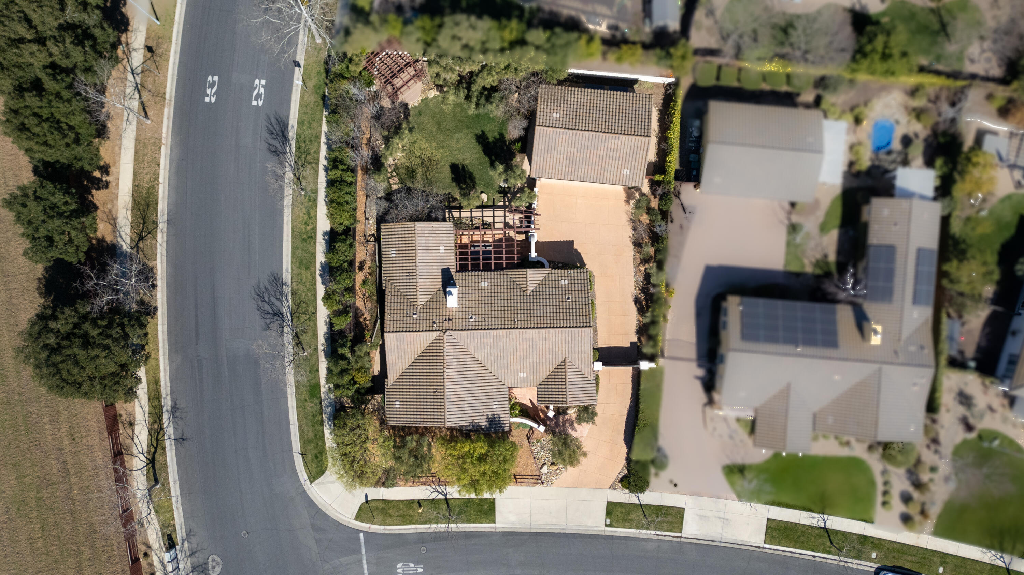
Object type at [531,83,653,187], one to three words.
building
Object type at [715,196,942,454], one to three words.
house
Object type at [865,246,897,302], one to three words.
solar panel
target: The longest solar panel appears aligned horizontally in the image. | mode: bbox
[740,297,841,348]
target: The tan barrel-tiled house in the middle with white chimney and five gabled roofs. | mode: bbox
[380,221,597,431]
